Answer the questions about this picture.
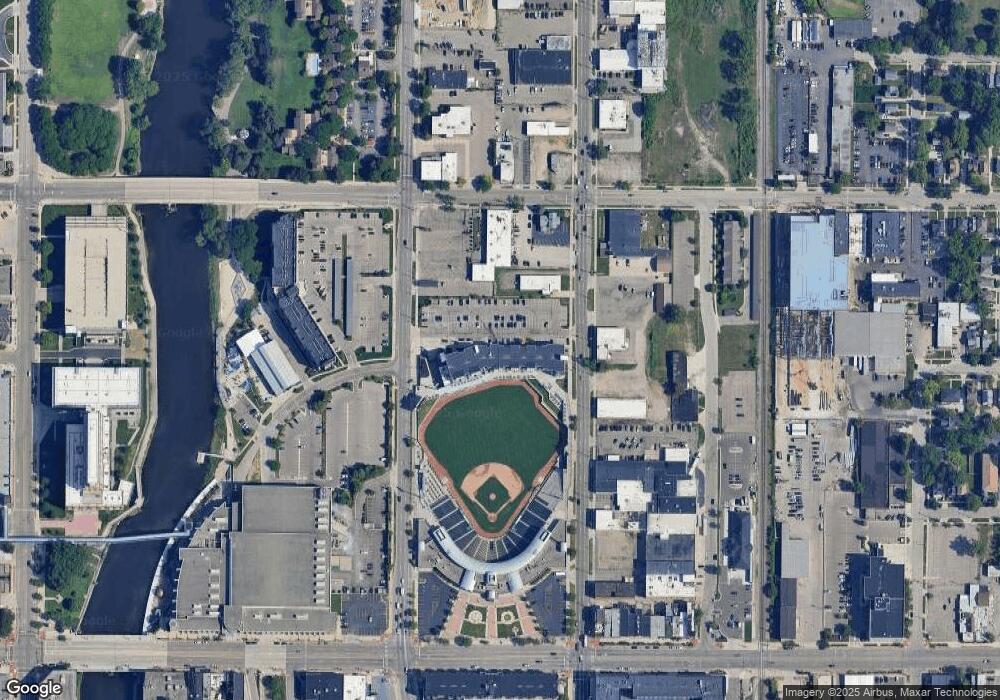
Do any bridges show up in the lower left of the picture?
Yes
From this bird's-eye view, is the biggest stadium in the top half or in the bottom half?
bottom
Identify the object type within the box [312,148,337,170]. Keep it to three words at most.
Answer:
house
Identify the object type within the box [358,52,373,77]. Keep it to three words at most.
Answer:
building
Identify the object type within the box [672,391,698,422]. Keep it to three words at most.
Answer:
building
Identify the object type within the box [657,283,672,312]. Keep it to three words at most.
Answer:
shed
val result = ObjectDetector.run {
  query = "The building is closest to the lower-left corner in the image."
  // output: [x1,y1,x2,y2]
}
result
[36,671,76,700]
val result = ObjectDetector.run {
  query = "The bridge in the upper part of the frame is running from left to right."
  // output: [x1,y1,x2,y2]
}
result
[125,177,259,208]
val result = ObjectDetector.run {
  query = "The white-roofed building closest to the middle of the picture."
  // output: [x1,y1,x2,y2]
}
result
[521,275,561,294]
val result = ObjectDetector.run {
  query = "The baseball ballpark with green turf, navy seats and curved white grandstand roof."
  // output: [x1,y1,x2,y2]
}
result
[415,368,569,598]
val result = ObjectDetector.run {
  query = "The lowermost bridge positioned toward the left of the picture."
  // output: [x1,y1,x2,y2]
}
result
[45,633,166,673]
